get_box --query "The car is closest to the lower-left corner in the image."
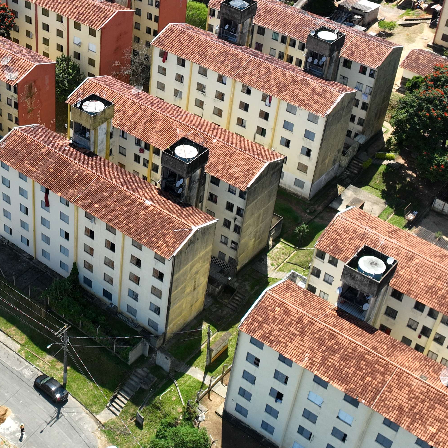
[31,372,69,403]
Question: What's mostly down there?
buildings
